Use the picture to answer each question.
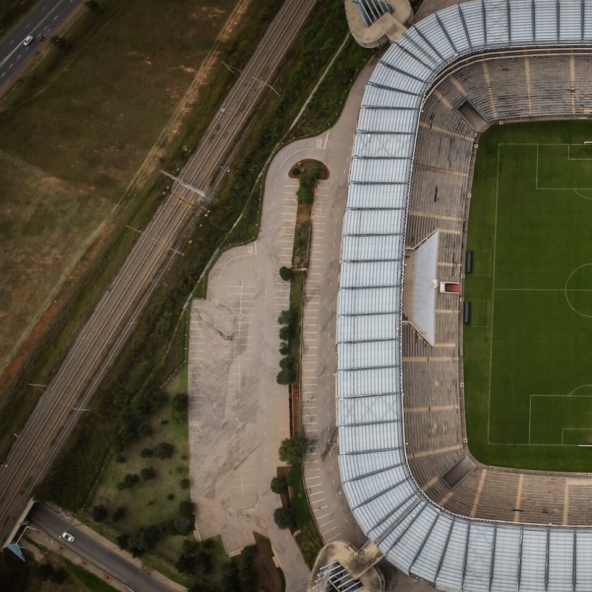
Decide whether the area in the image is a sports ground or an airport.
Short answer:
sports ground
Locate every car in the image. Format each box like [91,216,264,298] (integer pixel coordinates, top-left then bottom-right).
[22,36,34,46]
[62,532,76,543]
